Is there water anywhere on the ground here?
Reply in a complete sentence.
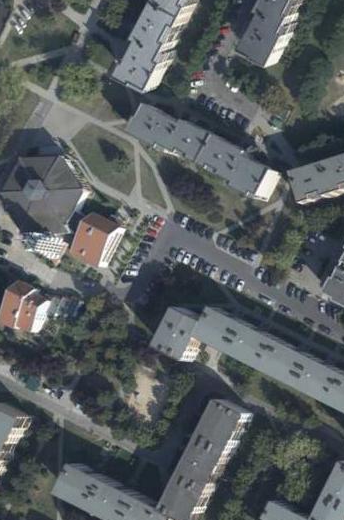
No, no water is visible.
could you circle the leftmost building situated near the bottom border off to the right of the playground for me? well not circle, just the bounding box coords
[160,398,255,520]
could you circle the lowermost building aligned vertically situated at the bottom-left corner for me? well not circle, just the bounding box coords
[0,399,34,475]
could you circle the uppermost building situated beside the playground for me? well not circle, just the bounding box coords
[149,306,344,414]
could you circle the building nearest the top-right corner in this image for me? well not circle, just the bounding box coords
[236,0,309,71]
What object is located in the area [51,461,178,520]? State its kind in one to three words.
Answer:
building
